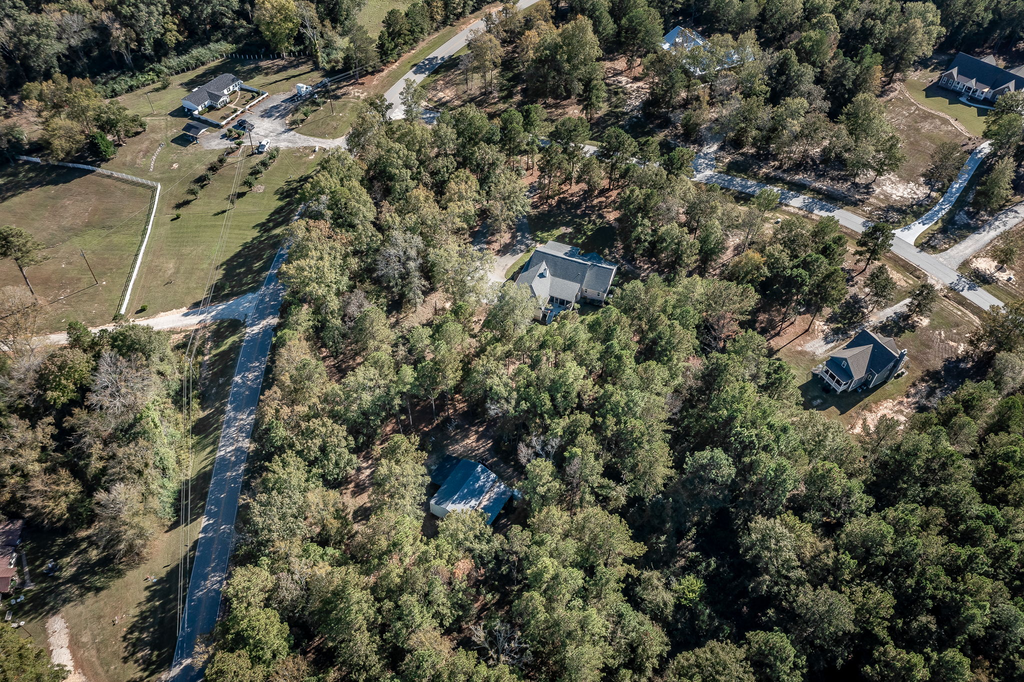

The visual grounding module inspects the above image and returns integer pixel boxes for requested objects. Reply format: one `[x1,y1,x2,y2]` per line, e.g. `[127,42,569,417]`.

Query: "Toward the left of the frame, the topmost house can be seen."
[177,73,241,114]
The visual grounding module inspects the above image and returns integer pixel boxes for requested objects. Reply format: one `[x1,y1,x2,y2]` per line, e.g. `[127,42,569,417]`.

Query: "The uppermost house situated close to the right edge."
[938,54,1024,109]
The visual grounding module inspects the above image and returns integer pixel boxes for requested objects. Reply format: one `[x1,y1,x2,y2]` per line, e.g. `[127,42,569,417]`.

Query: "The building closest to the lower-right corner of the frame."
[808,324,913,392]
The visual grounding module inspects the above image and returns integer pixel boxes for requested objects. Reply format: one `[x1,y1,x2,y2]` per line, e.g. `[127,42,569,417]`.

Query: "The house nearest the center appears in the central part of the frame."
[508,240,619,316]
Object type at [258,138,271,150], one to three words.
vehicle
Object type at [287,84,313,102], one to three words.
vehicle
